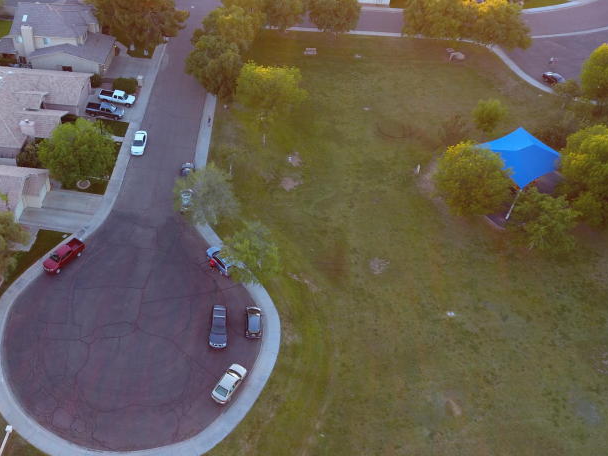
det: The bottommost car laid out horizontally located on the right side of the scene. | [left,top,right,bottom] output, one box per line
[540,69,569,84]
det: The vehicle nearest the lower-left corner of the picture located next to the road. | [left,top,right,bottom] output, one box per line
[44,235,84,270]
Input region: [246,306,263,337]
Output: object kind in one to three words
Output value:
car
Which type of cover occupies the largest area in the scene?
grass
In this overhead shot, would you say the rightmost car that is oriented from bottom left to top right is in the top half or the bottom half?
bottom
